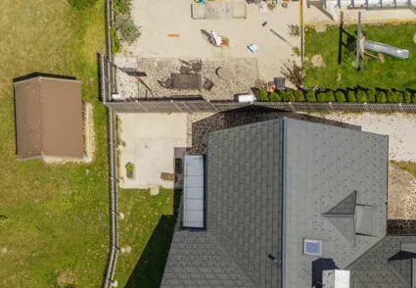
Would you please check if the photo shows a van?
No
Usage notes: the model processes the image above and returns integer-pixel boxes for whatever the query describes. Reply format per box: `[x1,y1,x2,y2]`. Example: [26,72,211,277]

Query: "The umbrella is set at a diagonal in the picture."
[120,68,152,96]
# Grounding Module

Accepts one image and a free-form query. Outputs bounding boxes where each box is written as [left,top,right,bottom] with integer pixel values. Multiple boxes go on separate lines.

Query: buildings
[161,119,416,288]
[11,76,98,170]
